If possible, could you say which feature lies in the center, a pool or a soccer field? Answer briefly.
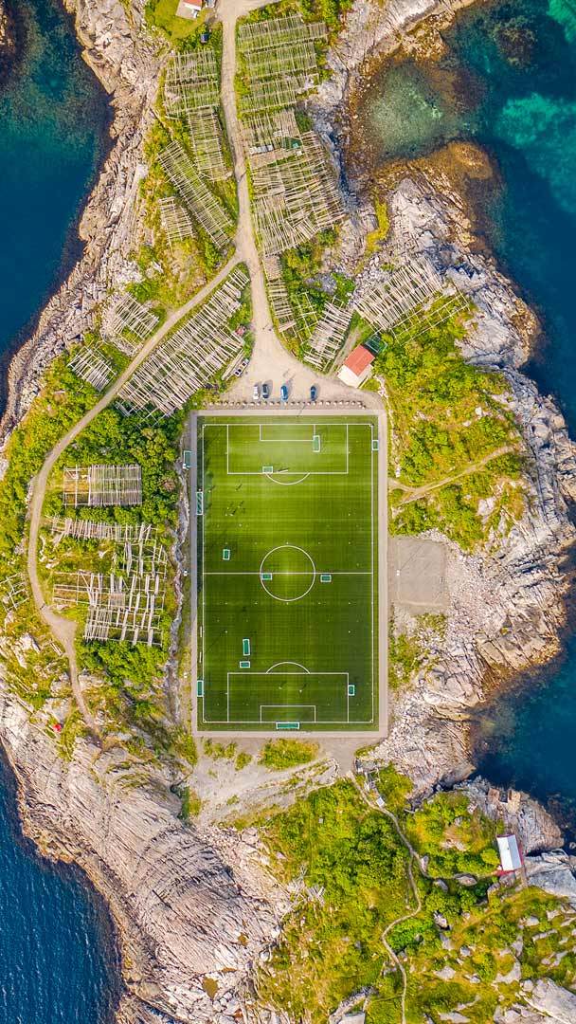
soccer field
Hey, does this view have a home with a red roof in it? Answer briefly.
Yes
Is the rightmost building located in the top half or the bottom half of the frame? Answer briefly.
bottom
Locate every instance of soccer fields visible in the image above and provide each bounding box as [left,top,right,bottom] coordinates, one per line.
[197,416,378,731]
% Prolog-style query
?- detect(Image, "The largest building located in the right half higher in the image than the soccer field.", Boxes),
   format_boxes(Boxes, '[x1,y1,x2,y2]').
[344,346,375,376]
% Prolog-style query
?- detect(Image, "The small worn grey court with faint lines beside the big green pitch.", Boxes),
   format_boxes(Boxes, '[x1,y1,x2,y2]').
[391,538,447,606]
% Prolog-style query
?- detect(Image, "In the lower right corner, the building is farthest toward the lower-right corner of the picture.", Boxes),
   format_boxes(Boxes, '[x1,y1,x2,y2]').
[497,832,523,874]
